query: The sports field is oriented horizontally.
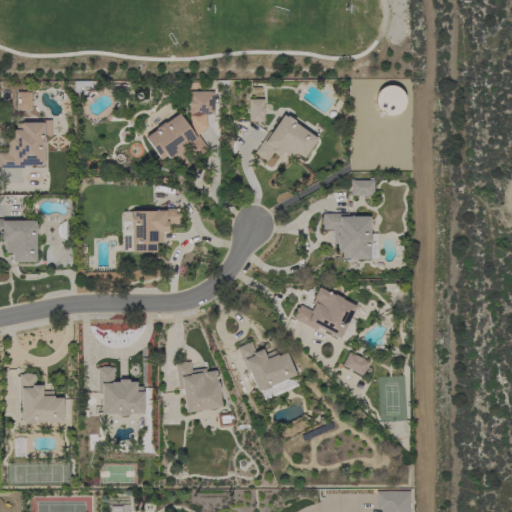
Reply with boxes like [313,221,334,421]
[0,0,384,58]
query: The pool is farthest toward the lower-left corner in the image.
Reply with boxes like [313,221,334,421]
[34,436,57,452]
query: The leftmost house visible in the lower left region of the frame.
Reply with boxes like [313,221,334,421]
[20,374,65,424]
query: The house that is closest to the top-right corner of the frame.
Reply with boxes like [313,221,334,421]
[353,179,376,197]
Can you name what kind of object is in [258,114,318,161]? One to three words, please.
house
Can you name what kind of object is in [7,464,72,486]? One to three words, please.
tennis court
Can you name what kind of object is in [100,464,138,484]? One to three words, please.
basketball court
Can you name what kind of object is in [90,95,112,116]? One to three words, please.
swimming pool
